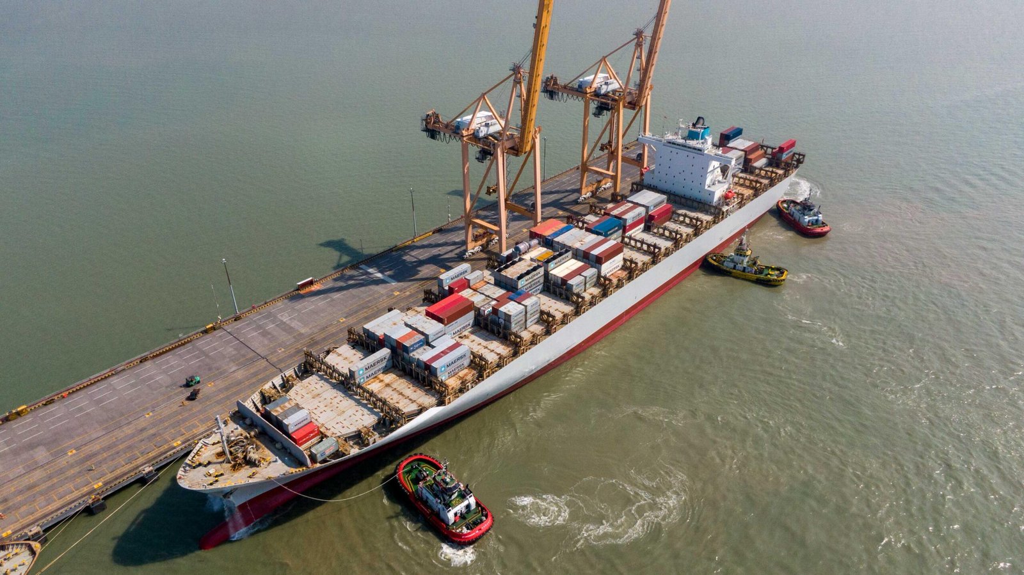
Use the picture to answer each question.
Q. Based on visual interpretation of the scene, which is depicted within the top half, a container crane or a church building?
container crane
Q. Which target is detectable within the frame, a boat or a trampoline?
boat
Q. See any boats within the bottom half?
Yes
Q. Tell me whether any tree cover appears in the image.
No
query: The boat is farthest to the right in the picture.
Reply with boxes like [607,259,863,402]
[777,186,835,237]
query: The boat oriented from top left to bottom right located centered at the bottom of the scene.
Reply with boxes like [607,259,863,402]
[396,450,499,545]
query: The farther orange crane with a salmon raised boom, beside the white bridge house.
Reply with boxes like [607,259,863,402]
[540,0,669,206]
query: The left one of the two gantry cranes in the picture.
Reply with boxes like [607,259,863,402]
[418,0,551,262]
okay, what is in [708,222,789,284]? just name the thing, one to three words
boat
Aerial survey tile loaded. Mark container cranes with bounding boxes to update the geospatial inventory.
[540,0,669,206]
[418,0,551,262]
